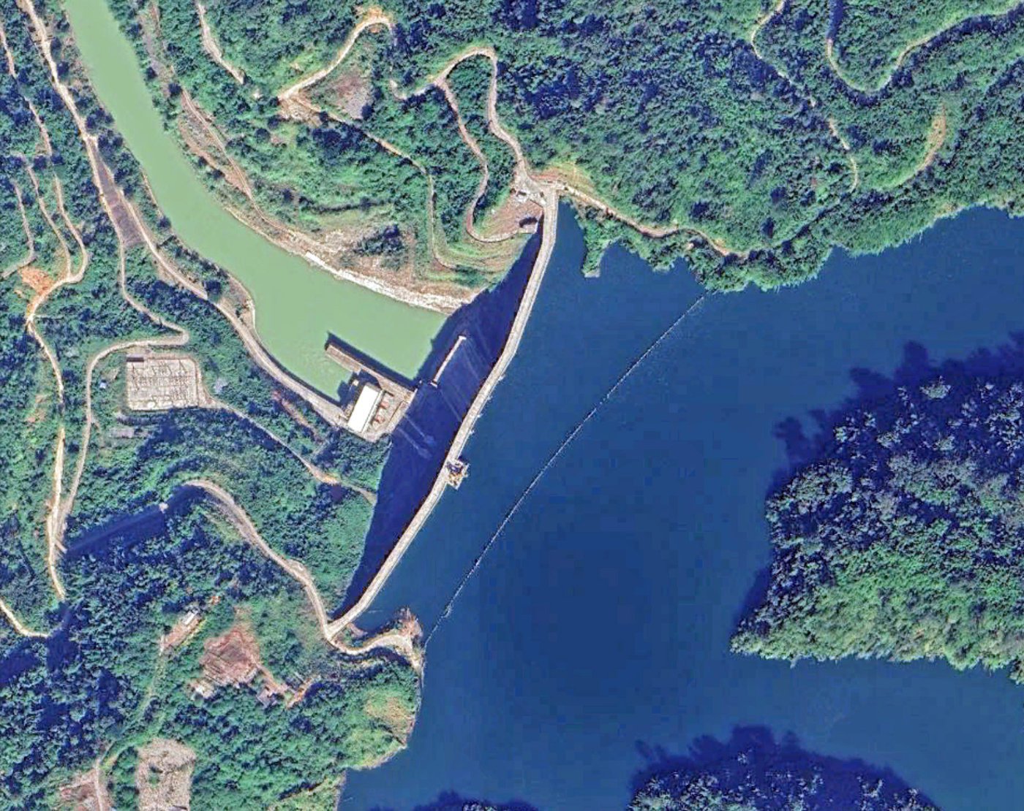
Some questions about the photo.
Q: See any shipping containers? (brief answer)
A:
No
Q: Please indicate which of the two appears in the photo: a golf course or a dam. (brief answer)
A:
dam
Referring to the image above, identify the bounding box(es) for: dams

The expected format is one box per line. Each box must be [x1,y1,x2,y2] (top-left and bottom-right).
[331,189,559,635]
